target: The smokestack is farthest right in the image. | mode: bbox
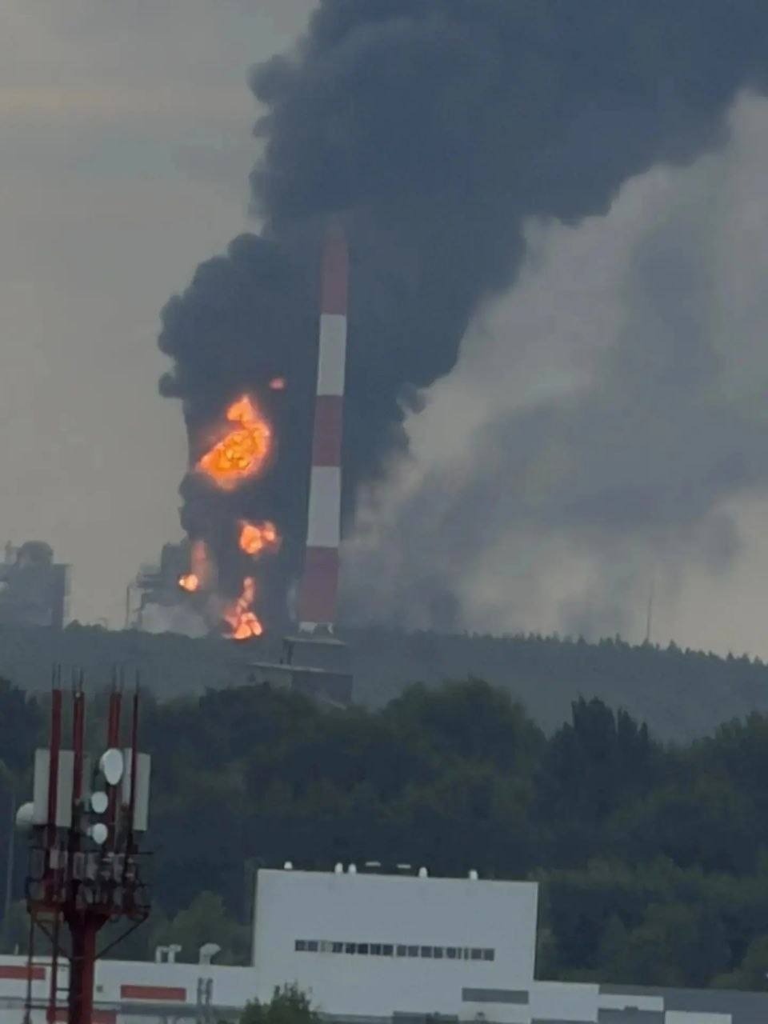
[294,209,349,672]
